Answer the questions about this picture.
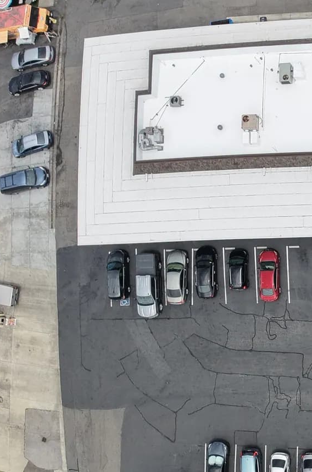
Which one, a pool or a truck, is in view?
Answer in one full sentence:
Looking from above, you can make out a truck.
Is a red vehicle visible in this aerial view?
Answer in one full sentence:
Yes, you can see a red vehicle in this photo.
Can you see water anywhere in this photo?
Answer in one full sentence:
No, the picture contains no water.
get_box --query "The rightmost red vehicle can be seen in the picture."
[256,248,281,301]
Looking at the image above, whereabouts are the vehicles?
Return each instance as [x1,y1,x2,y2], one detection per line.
[133,250,163,318]
[11,131,58,158]
[240,446,262,472]
[163,249,190,304]
[103,249,133,300]
[0,5,57,51]
[269,451,292,472]
[204,439,229,472]
[301,451,312,472]
[11,46,58,72]
[0,165,53,194]
[256,248,281,301]
[226,249,250,291]
[193,246,219,298]
[8,71,56,95]
[0,283,25,308]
